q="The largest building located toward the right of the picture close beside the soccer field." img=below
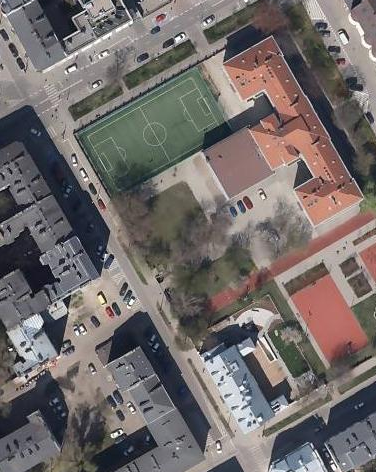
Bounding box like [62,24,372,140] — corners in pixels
[223,33,366,229]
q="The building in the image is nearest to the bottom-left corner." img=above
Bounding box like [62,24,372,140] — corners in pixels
[0,412,60,472]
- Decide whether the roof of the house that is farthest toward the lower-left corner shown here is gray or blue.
gray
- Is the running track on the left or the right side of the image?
right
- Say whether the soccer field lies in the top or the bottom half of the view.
top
